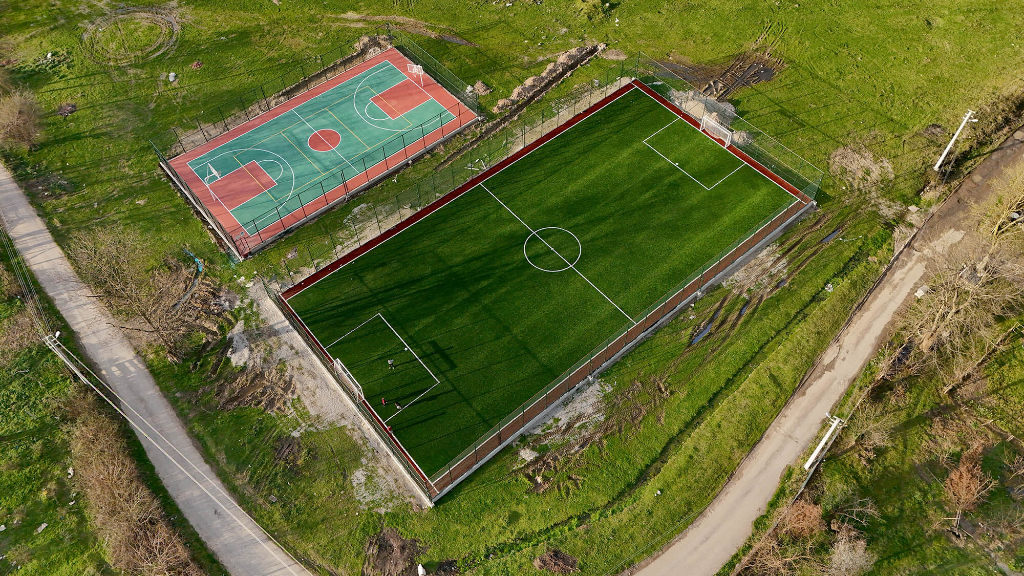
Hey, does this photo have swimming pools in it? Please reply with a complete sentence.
No, this view has no swimming pool in it.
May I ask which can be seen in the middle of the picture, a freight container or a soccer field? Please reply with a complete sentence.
What appears in the middle of the picture is a soccer field.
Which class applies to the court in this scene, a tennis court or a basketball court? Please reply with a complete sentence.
I'd identify the court as a basketball court.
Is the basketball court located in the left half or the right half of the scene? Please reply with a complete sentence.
The basketball court appears in the left half of the scene.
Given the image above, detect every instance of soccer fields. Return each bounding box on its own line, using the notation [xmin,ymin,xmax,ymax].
[274,80,813,499]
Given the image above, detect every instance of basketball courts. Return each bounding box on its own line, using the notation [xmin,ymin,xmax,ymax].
[168,47,477,254]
